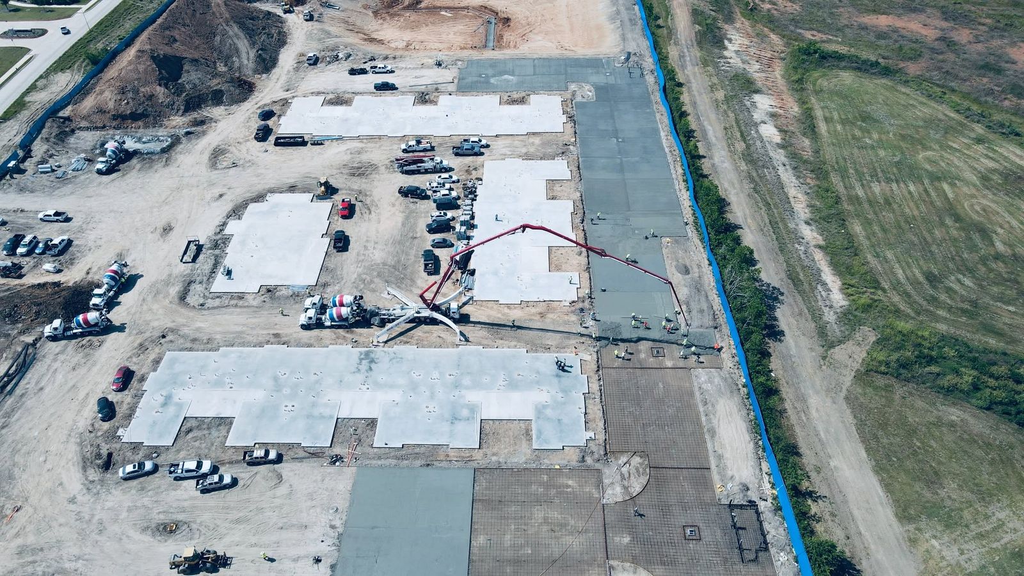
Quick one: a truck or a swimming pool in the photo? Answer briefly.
truck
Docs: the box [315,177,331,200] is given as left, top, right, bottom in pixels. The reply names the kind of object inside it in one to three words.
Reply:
work vehicle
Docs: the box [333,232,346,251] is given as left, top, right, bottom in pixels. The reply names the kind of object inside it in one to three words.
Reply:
vehicle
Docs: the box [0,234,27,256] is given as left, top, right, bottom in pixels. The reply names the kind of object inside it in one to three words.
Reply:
truck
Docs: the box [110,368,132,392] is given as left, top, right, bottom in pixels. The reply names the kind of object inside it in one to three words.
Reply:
car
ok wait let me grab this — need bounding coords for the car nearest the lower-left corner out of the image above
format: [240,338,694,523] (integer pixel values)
[118,461,157,482]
